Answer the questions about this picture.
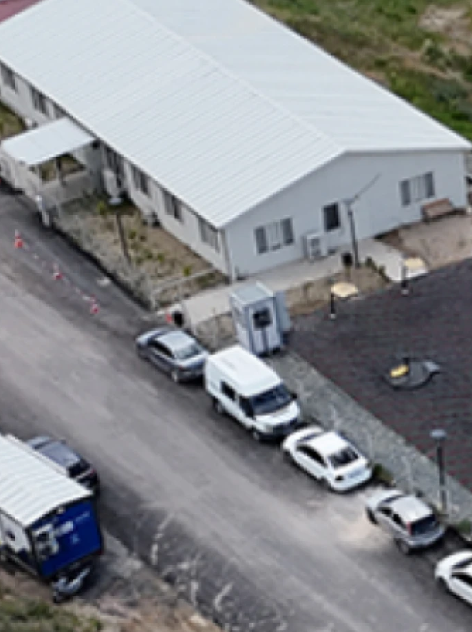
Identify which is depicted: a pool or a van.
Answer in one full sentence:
The one in the frame is a van.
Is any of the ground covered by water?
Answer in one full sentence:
No, the scene doesn't show any water.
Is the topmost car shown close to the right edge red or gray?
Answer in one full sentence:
From above, the topmost car shown close to the right edge appears gray.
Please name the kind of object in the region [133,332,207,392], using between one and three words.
car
